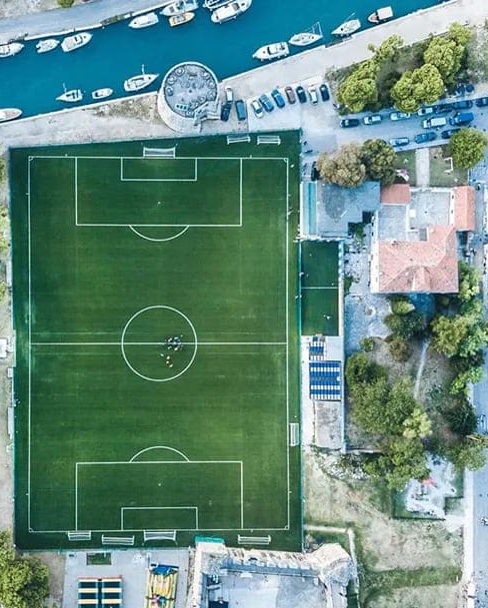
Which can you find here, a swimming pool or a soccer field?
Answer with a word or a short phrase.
soccer field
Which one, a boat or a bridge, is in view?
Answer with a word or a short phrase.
boat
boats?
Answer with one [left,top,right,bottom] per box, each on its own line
[57,33,90,54]
[0,107,21,122]
[204,0,231,8]
[122,70,157,92]
[332,14,362,34]
[0,43,22,57]
[168,14,194,26]
[33,39,58,53]
[287,22,323,48]
[90,90,112,100]
[130,9,161,27]
[56,87,83,102]
[161,0,202,14]
[368,6,394,21]
[253,40,293,60]
[210,1,251,25]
